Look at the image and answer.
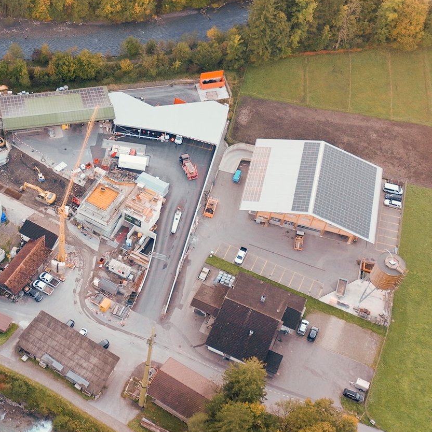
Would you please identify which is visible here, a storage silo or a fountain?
storage silo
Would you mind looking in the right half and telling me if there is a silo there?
Yes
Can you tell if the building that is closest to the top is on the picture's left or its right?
left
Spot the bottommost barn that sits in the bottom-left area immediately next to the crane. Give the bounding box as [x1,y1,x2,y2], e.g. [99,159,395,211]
[18,311,120,397]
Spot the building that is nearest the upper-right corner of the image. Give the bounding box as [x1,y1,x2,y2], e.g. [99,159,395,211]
[240,137,381,249]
